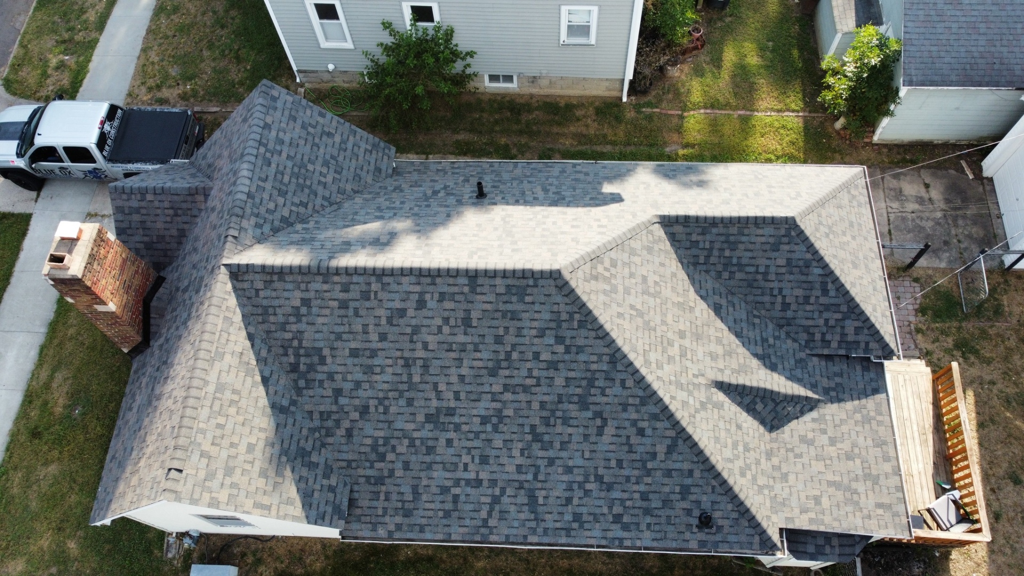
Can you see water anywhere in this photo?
No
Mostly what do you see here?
buildings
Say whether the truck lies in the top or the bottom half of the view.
top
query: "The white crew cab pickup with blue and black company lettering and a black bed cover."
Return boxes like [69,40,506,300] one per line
[0,90,220,192]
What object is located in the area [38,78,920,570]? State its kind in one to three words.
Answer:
house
